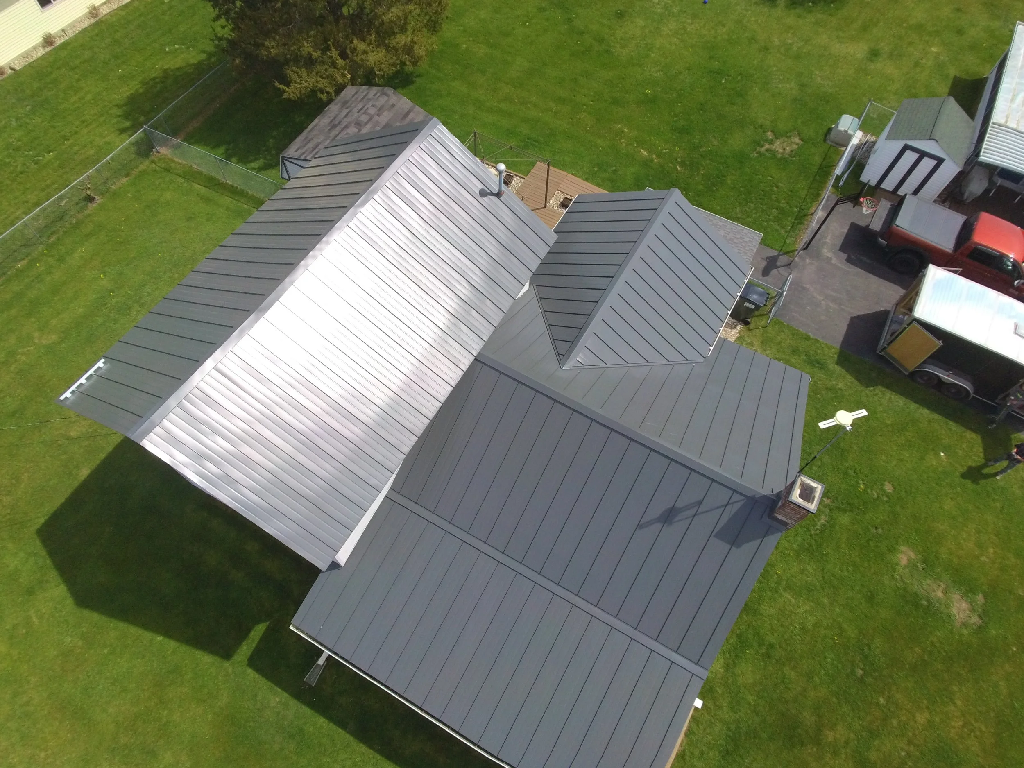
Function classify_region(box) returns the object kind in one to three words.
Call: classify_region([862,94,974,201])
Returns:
shed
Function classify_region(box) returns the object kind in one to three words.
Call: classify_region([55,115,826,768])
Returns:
house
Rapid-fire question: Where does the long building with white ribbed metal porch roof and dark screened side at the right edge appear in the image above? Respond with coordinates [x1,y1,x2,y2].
[945,19,1024,207]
